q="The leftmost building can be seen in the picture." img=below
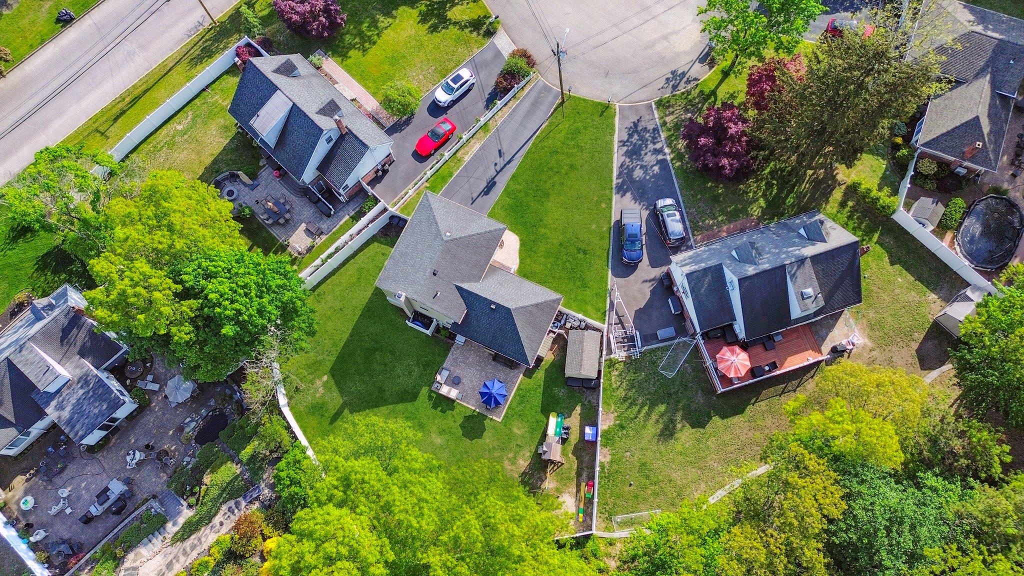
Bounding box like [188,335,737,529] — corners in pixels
[0,284,141,455]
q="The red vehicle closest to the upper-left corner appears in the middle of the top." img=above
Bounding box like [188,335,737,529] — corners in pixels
[415,116,460,156]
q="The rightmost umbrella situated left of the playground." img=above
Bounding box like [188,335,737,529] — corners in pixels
[476,377,510,411]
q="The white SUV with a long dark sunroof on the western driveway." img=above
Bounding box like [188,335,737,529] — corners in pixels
[432,64,478,109]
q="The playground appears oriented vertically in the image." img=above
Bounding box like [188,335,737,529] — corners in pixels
[575,387,600,533]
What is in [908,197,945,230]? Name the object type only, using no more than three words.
shed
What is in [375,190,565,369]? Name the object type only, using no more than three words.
house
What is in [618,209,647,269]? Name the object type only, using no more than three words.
truck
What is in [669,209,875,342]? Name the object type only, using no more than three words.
house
